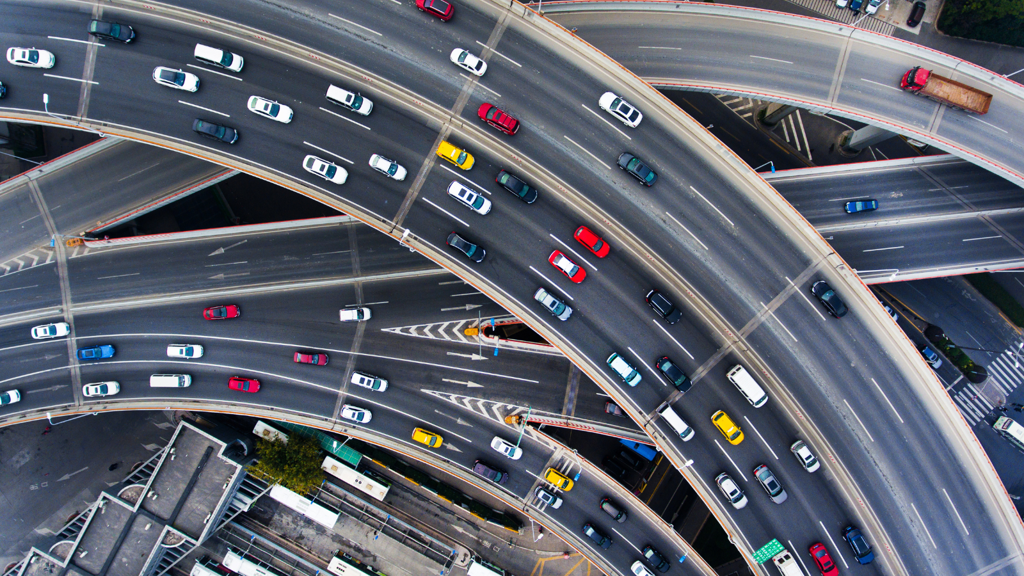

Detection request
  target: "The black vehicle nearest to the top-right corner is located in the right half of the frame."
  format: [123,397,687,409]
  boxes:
[906,0,928,27]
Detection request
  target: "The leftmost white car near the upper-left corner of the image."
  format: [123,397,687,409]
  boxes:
[7,46,58,70]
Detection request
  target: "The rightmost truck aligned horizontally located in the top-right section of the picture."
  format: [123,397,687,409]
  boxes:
[900,69,995,113]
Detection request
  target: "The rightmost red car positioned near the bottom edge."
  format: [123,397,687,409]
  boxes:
[807,540,838,576]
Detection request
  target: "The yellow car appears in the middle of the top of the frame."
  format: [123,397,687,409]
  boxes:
[436,142,475,171]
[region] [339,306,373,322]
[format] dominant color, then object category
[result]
white vehicle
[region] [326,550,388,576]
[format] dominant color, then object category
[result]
white bus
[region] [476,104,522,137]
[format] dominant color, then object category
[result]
red car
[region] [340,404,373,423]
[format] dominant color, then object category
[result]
white car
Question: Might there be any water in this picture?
No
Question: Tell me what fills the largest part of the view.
paved ground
